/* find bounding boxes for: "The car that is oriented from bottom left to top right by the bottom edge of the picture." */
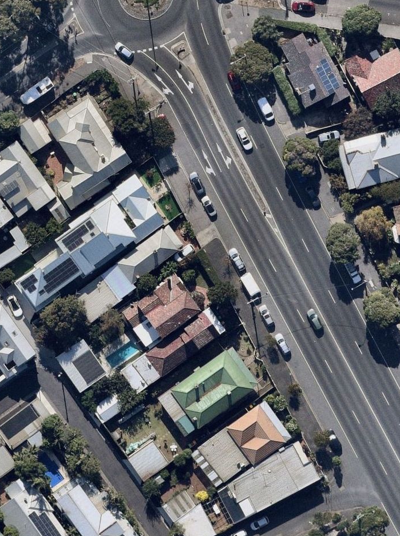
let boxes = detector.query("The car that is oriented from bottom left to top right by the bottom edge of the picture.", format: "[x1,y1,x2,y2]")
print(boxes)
[249,515,269,532]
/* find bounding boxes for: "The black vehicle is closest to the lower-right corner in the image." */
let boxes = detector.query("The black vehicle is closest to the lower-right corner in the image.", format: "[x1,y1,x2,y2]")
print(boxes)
[327,428,341,450]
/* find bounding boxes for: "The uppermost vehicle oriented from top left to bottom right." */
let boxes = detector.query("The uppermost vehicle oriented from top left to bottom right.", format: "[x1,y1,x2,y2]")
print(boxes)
[114,43,134,61]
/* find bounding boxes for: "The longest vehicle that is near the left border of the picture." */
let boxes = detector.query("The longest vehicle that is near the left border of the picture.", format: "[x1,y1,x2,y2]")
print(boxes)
[19,77,57,106]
